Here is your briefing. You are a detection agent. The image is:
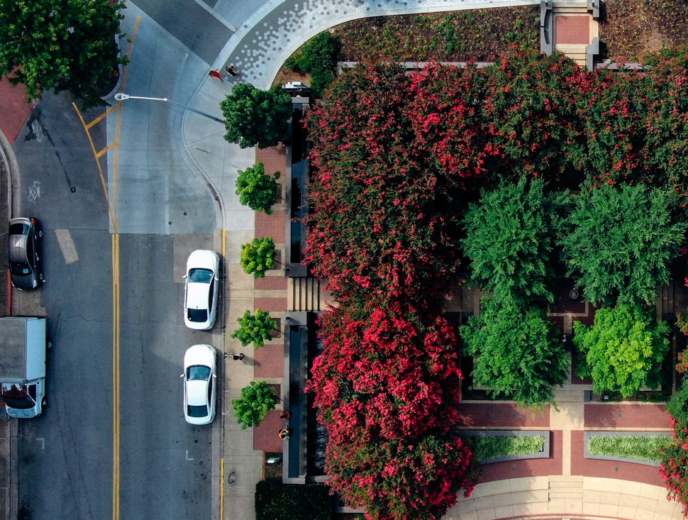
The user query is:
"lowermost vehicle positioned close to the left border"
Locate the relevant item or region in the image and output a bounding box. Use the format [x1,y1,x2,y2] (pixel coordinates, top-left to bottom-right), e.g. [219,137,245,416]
[0,310,55,418]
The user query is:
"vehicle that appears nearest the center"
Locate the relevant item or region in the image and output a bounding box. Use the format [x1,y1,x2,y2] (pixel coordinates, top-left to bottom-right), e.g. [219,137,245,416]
[177,249,218,329]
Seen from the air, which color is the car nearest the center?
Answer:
white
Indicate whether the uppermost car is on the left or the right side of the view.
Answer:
left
